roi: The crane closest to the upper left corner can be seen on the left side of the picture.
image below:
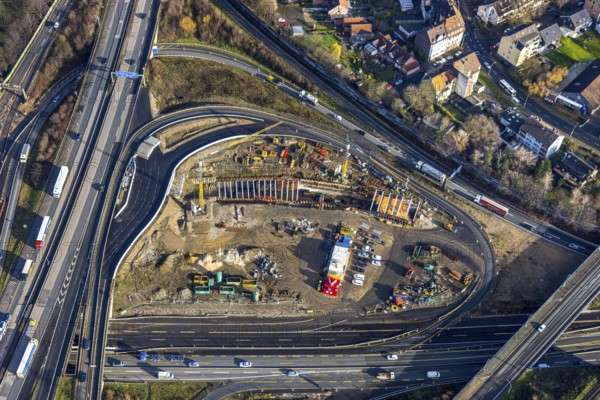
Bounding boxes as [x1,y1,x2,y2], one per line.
[178,121,283,217]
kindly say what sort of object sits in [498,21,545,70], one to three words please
building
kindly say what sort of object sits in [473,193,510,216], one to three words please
truck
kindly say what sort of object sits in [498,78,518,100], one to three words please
vehicle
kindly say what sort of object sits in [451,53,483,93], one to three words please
house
